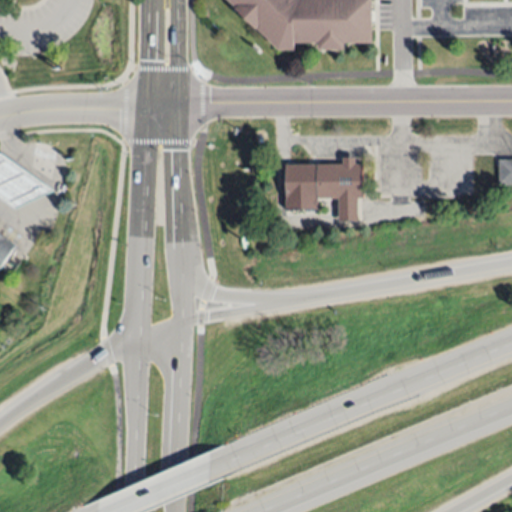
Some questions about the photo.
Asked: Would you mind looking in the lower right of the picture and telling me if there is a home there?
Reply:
No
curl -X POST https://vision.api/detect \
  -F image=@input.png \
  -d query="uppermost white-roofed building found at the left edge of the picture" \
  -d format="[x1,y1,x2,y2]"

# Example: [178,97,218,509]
[0,152,54,209]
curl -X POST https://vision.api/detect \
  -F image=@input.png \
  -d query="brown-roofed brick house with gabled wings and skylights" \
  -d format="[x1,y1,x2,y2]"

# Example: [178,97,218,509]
[285,158,362,221]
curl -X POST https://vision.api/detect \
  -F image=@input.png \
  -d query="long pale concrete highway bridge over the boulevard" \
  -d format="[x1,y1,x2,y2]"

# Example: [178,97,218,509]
[86,449,212,512]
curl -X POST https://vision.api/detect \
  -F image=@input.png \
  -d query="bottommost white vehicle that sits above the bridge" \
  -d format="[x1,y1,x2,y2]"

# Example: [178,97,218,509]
[89,350,108,364]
